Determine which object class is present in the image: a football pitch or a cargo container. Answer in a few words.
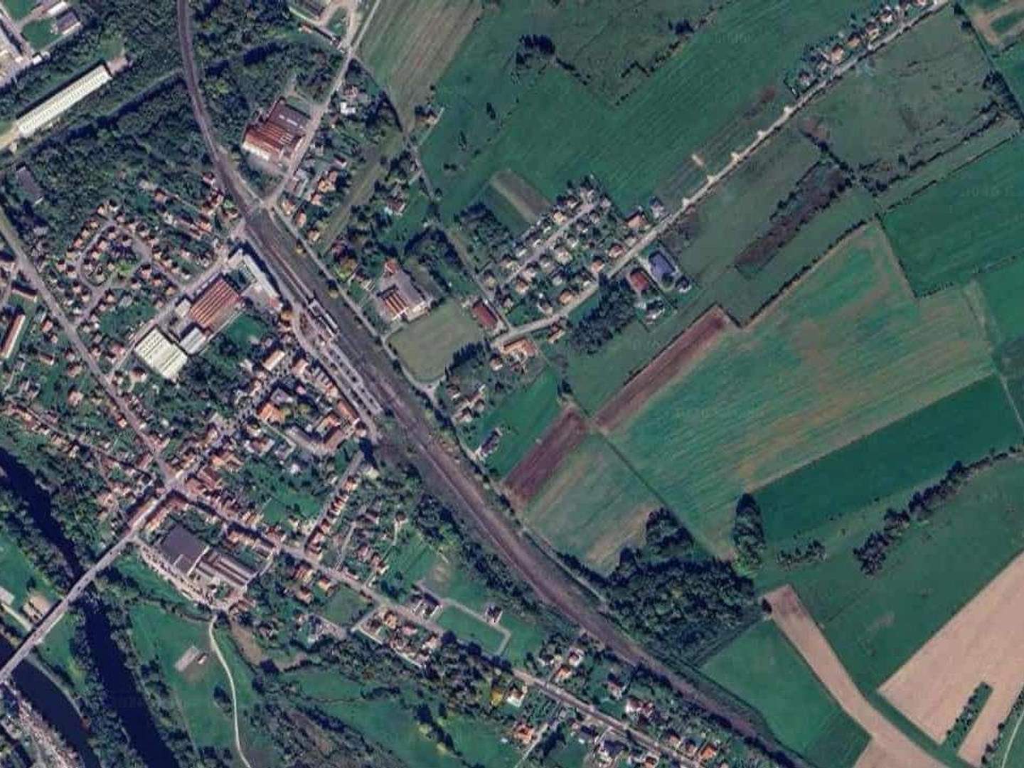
football pitch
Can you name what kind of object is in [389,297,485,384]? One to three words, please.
soccer field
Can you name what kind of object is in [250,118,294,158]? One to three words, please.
building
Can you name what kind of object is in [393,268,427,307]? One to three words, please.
building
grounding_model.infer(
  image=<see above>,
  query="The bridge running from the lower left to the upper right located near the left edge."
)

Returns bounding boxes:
[0,537,128,680]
